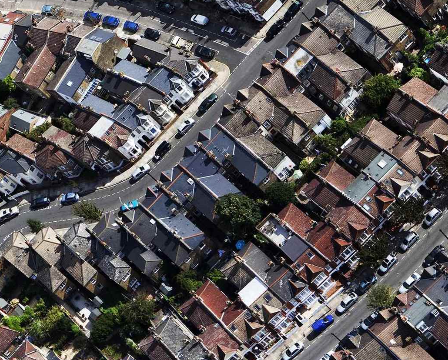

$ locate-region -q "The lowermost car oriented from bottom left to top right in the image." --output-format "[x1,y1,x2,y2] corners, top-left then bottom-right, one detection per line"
[281,341,305,360]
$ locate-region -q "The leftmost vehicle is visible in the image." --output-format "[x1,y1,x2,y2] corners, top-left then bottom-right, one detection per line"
[0,207,19,223]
